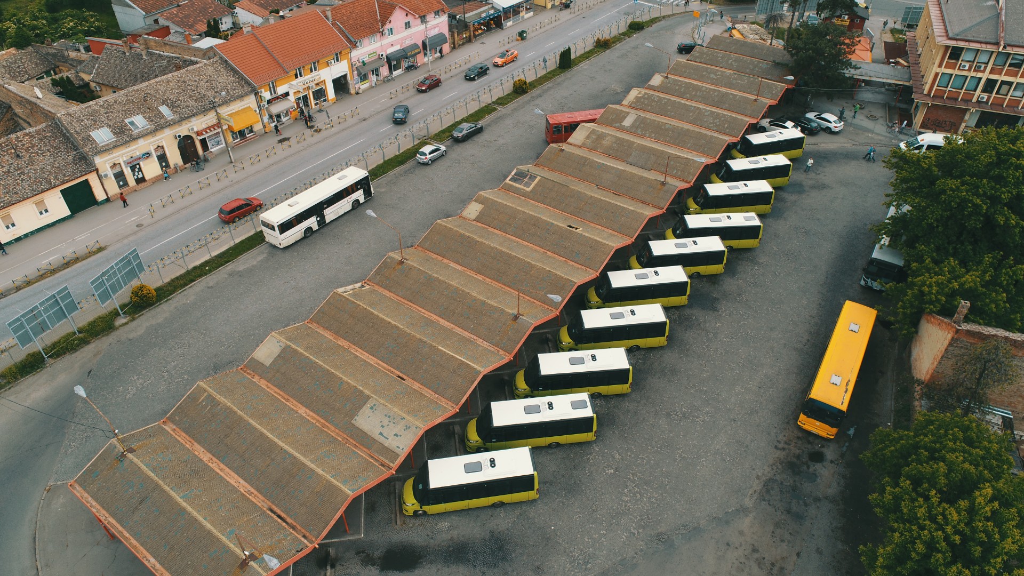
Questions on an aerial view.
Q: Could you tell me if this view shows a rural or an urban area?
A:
urban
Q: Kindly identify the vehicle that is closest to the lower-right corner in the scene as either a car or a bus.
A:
bus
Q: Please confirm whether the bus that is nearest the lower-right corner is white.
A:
No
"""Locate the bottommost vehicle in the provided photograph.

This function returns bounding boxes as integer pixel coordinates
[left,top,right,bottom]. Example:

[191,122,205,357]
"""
[403,447,539,518]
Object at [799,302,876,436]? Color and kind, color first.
orange bus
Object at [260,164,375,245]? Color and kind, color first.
white bus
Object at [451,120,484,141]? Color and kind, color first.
gray car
